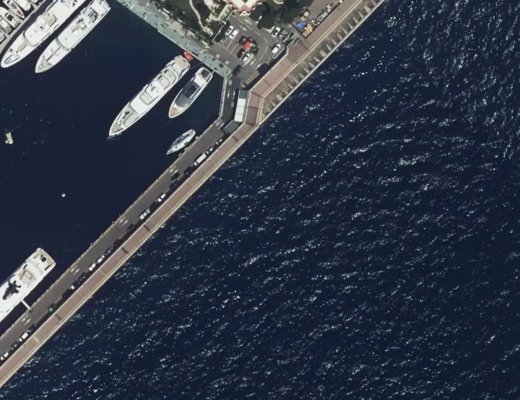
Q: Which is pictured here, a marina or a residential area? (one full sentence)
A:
The picture captures a marina.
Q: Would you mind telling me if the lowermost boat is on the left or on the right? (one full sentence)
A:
It is on the left.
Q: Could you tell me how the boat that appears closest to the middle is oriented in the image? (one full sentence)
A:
The boat that appears closest to the middle is oriented on a diagonal.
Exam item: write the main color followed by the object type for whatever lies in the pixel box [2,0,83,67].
white boat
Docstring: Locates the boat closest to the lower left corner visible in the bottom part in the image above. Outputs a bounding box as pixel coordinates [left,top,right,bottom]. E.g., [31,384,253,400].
[0,249,53,320]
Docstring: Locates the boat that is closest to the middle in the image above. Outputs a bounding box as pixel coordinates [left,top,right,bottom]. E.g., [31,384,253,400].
[166,129,196,155]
